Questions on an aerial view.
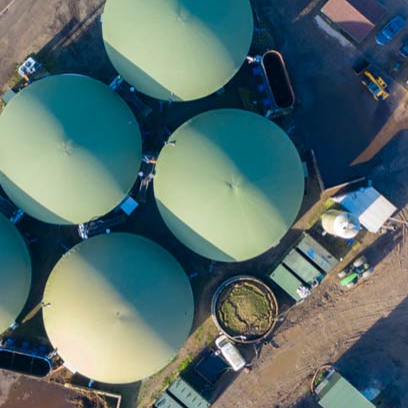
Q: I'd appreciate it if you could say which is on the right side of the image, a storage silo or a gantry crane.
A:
storage silo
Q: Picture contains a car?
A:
Yes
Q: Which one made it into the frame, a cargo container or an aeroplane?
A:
cargo container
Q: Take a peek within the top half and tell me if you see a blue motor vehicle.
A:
Yes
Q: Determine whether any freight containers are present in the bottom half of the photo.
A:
Yes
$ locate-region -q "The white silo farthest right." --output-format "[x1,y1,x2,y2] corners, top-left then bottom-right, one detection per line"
[322,210,361,239]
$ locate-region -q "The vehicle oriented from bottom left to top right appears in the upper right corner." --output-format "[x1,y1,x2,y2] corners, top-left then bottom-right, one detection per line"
[374,15,405,47]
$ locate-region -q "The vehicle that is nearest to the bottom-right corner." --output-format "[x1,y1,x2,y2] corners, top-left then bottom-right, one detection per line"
[338,258,370,287]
